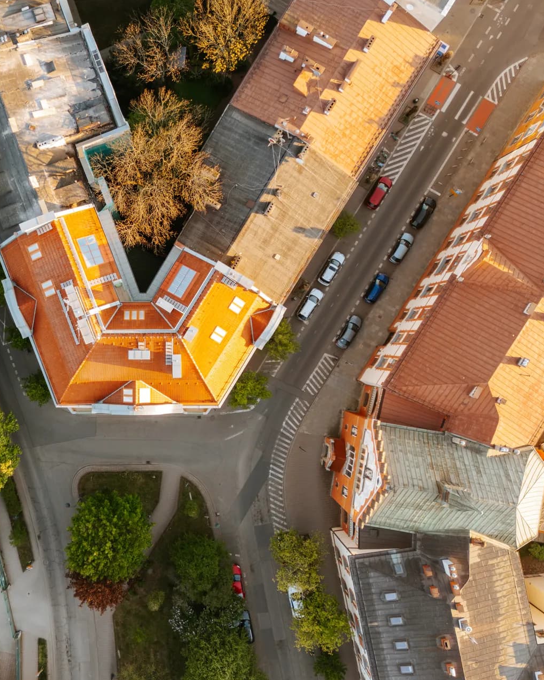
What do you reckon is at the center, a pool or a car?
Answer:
car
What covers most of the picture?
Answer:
buildings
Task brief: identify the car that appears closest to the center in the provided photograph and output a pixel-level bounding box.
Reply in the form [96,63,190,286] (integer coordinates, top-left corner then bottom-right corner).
[294,286,326,324]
